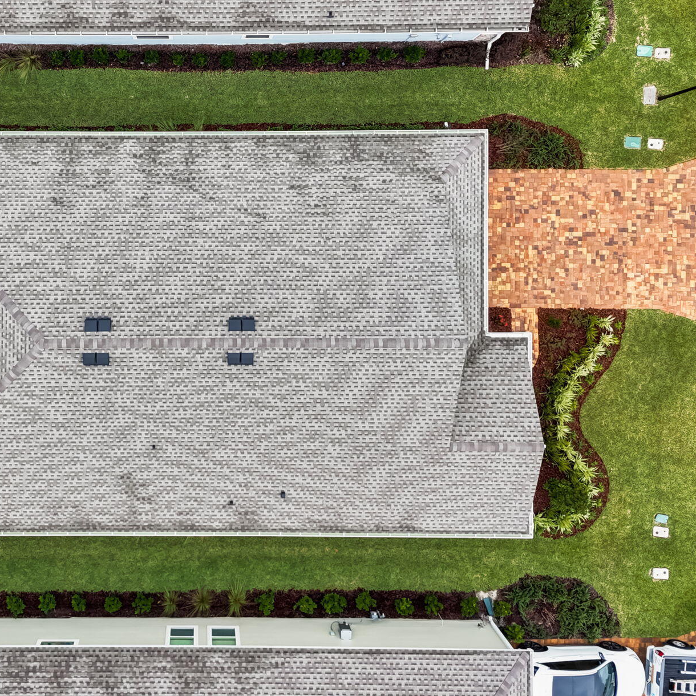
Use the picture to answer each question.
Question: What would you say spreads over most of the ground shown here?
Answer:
buildings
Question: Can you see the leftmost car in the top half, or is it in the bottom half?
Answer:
bottom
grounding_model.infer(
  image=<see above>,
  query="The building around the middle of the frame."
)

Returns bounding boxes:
[0,122,548,537]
